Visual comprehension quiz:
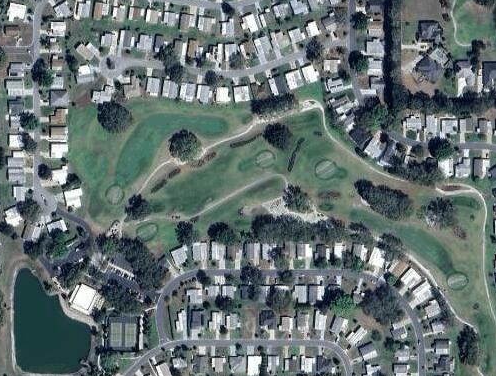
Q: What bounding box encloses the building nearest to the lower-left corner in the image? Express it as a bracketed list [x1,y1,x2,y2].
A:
[68,283,103,313]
